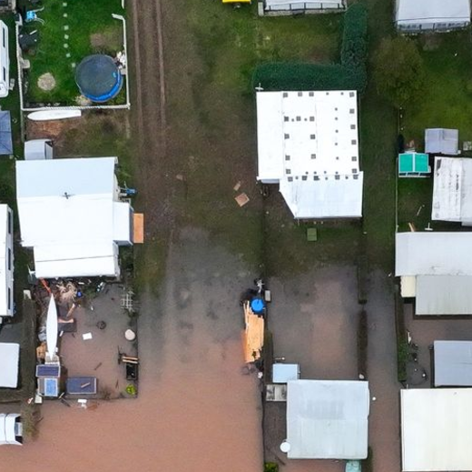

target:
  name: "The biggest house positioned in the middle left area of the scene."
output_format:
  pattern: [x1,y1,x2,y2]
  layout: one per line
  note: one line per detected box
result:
[16,158,135,279]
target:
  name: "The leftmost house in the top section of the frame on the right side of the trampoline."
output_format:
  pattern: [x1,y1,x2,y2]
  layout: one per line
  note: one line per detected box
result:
[255,83,363,221]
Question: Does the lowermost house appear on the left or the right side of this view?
right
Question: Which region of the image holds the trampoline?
top left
